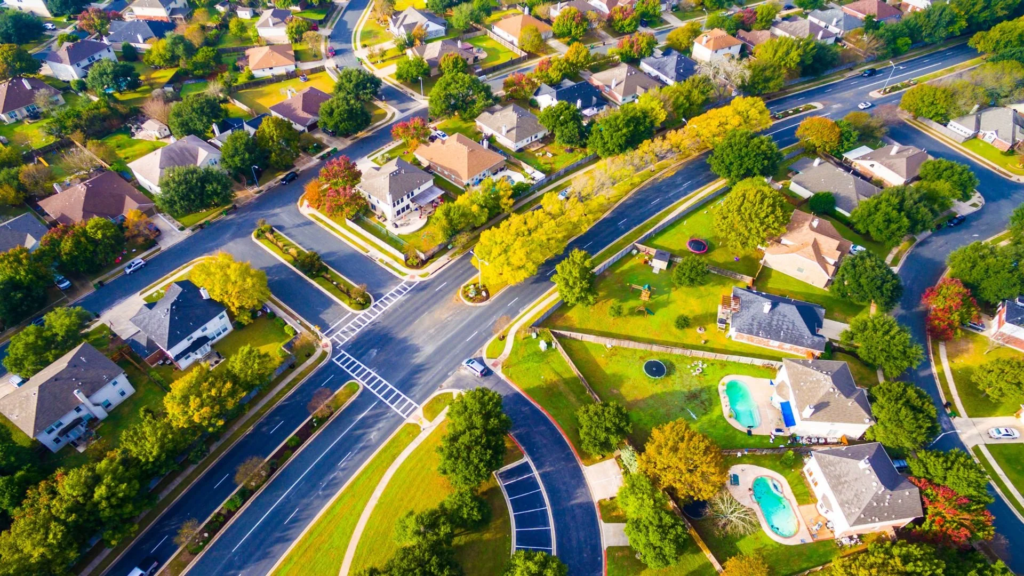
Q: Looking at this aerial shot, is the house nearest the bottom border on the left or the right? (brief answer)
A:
right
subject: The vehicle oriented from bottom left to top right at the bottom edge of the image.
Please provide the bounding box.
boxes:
[124,550,158,576]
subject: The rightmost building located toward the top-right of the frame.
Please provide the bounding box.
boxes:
[948,106,1024,154]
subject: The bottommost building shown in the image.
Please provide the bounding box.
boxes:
[805,442,924,539]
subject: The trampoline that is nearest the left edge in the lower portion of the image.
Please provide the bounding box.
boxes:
[643,358,666,378]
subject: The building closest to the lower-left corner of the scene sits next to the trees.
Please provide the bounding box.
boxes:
[0,344,133,456]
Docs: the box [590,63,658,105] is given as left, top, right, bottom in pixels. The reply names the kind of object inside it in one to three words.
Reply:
house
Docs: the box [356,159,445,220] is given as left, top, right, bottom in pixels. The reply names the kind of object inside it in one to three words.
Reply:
house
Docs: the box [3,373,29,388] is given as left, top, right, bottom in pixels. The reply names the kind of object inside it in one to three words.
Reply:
car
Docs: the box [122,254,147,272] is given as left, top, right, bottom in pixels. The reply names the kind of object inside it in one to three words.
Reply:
car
